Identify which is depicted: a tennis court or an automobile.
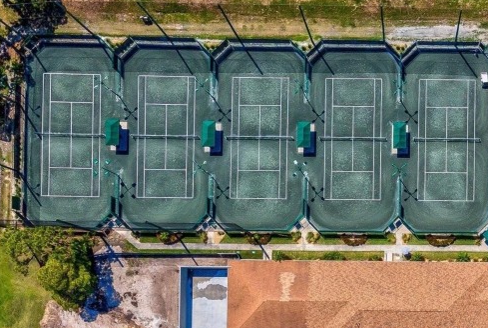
tennis court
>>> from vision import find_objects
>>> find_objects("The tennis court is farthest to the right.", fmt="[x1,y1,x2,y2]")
[400,48,488,236]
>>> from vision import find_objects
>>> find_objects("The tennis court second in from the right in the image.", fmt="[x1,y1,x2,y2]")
[308,47,400,235]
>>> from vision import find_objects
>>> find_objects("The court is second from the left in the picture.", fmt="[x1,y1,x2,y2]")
[122,45,216,232]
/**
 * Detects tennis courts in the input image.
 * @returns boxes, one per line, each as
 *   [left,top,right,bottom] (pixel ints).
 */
[122,45,216,232]
[400,48,488,236]
[32,42,122,228]
[215,46,310,233]
[308,47,400,235]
